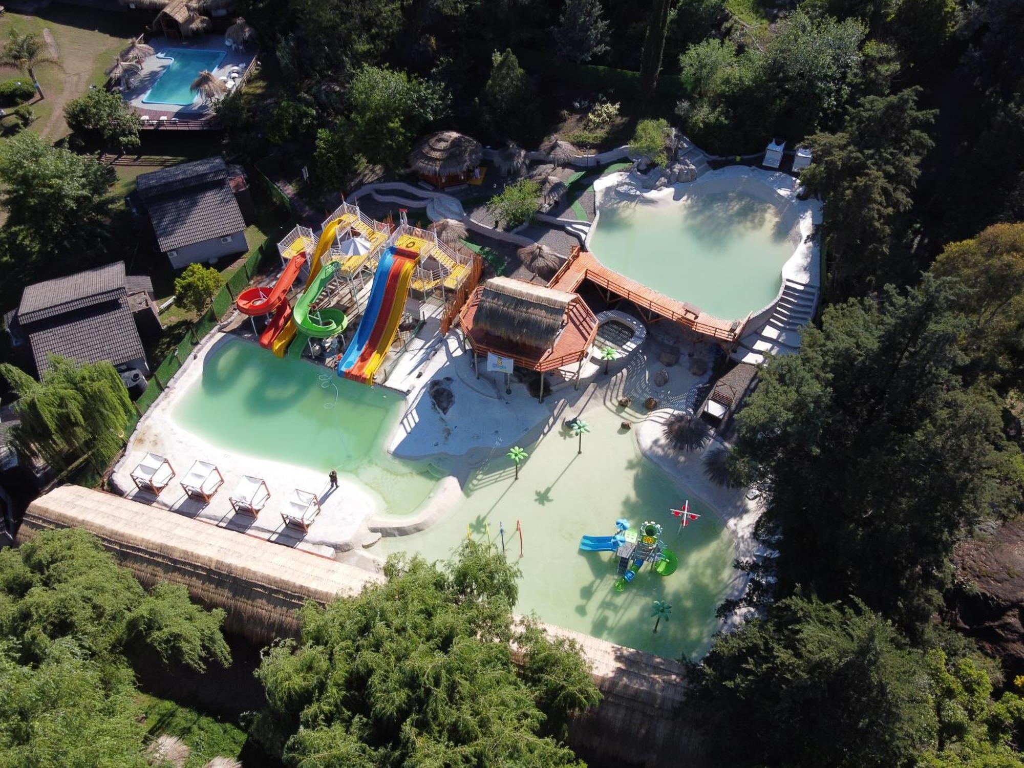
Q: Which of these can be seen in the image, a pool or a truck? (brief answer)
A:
pool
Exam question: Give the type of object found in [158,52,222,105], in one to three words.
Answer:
swimming pool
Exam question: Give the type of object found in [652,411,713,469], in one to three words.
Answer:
umbrella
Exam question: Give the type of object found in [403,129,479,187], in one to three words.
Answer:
shed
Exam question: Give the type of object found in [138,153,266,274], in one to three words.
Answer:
house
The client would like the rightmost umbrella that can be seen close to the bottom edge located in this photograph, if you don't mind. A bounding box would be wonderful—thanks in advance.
[203,739,265,768]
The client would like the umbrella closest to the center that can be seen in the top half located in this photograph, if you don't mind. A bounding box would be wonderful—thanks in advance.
[512,241,565,289]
